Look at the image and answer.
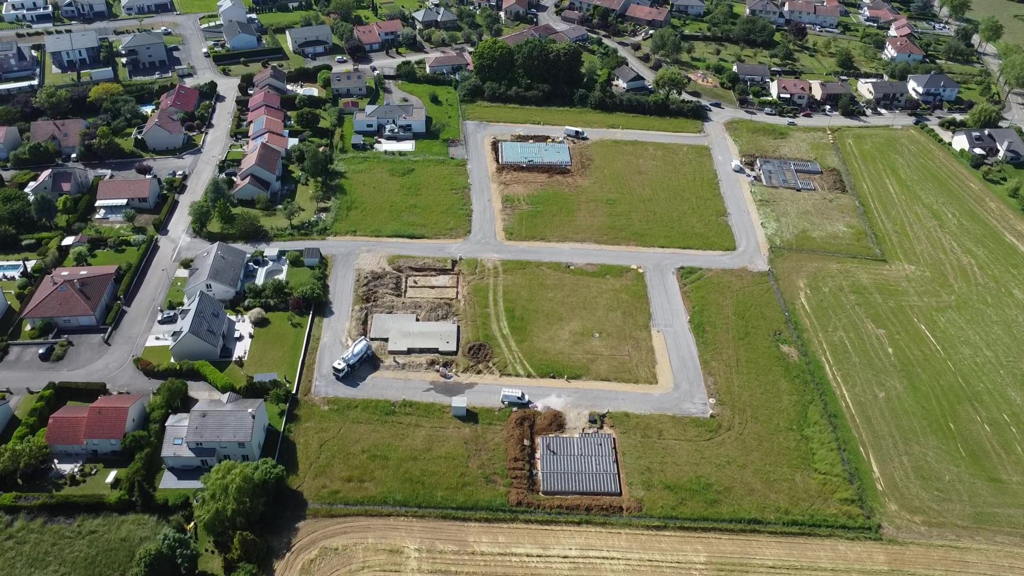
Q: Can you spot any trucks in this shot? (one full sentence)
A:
Yes, the photo shows a truck.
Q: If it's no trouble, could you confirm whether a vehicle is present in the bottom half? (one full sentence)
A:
Yes, a vehicle is visible in the bottom half.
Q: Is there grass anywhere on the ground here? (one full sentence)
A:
Yes, some grass is visible.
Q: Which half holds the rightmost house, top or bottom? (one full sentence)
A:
You can find the rightmost house in the top half.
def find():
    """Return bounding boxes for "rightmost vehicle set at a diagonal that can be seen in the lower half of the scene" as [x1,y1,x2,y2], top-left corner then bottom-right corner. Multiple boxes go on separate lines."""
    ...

[332,337,377,380]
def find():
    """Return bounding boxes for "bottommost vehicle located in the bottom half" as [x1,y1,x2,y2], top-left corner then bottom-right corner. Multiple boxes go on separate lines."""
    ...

[500,391,530,407]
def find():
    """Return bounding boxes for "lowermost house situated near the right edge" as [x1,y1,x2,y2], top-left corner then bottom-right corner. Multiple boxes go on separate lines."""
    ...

[949,126,1024,165]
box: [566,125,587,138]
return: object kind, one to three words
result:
vehicle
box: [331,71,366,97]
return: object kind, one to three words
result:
house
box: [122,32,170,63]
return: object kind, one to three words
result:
house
